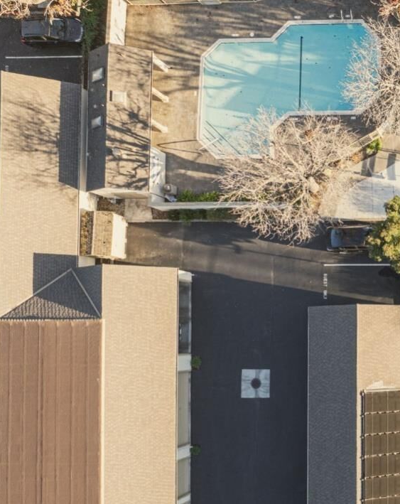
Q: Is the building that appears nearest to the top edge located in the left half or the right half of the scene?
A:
left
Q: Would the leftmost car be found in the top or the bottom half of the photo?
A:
top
